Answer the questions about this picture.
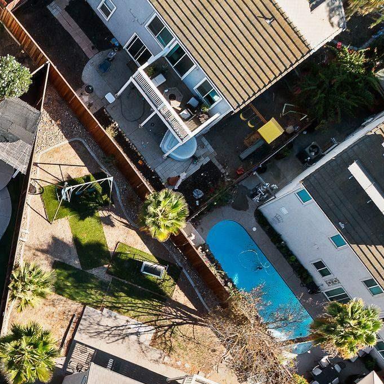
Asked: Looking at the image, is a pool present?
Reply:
Yes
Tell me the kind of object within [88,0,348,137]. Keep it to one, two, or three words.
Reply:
house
